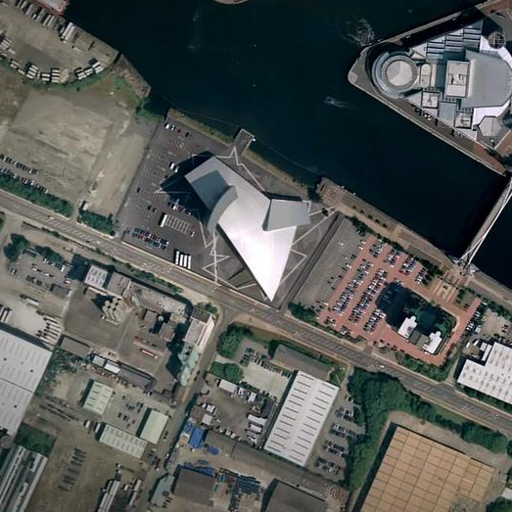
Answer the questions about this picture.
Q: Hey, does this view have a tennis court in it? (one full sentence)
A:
No, there isn't any tennis court down there.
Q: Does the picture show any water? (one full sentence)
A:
Yes, some water is visible.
